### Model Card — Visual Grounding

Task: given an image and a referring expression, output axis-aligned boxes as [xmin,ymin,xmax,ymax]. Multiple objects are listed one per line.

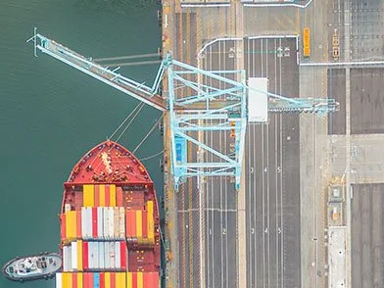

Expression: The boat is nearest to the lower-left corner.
[3,253,60,281]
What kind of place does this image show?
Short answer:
port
